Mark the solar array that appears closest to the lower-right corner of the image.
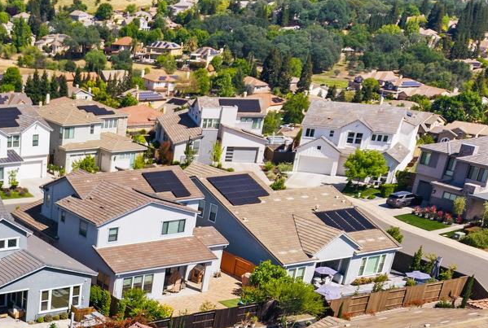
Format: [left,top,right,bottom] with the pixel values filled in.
[321,204,376,231]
